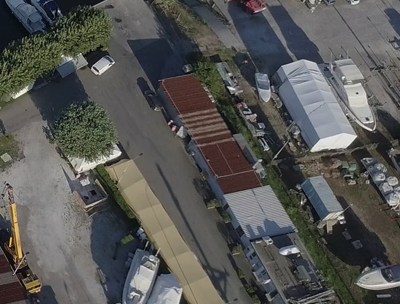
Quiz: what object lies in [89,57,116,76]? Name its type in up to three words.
car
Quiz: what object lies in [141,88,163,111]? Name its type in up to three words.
car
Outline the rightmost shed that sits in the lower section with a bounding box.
[295,176,343,226]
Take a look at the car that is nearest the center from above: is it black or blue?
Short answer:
black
